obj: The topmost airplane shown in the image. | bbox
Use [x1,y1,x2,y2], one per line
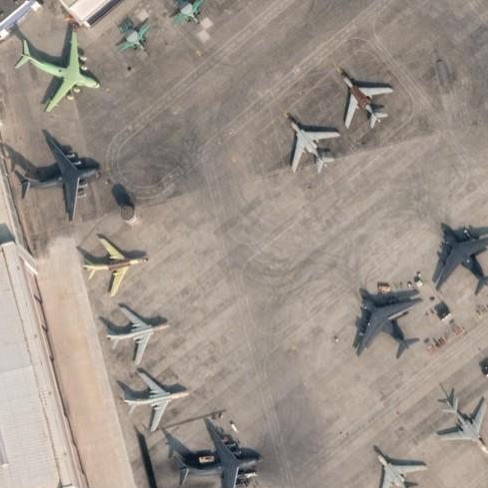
[173,0,207,25]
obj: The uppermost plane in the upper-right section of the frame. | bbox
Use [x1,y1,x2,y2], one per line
[345,80,393,130]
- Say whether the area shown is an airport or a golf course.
airport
